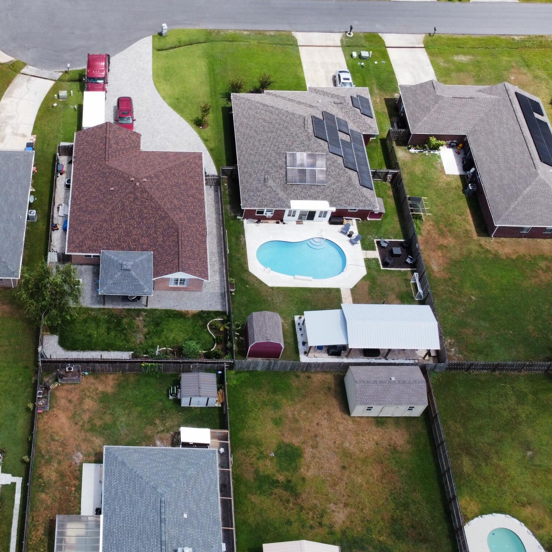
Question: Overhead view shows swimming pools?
Yes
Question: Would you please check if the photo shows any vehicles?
Yes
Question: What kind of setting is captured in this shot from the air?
residential area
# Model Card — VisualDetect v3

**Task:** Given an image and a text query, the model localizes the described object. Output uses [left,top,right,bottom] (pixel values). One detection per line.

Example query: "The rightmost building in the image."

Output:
[398,79,552,240]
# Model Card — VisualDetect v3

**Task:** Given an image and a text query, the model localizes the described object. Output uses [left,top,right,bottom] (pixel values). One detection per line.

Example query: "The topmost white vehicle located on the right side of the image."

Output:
[334,68,355,87]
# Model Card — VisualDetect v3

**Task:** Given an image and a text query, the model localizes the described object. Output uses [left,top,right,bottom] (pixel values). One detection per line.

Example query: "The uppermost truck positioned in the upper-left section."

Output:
[82,48,110,107]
